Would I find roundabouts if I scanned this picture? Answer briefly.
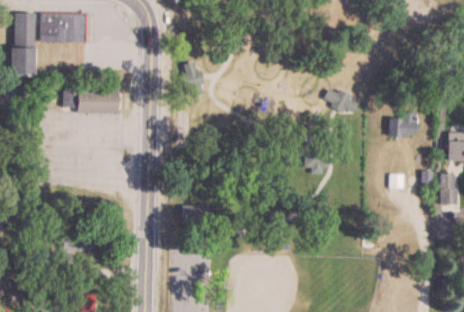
No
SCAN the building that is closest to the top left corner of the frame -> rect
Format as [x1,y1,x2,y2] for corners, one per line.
[14,12,36,46]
